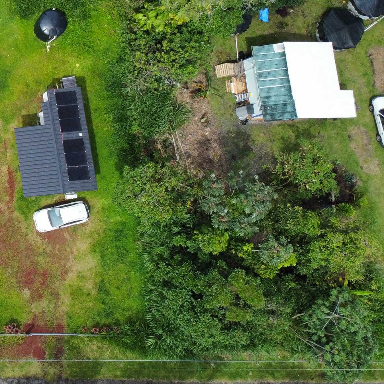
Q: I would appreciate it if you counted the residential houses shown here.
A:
2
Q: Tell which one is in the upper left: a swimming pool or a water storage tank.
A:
water storage tank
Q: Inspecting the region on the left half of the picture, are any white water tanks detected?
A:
No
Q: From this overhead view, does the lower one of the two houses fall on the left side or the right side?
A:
left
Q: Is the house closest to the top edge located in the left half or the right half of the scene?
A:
right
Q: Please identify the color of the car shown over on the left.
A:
white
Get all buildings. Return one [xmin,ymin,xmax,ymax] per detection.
[239,40,358,122]
[14,88,98,197]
